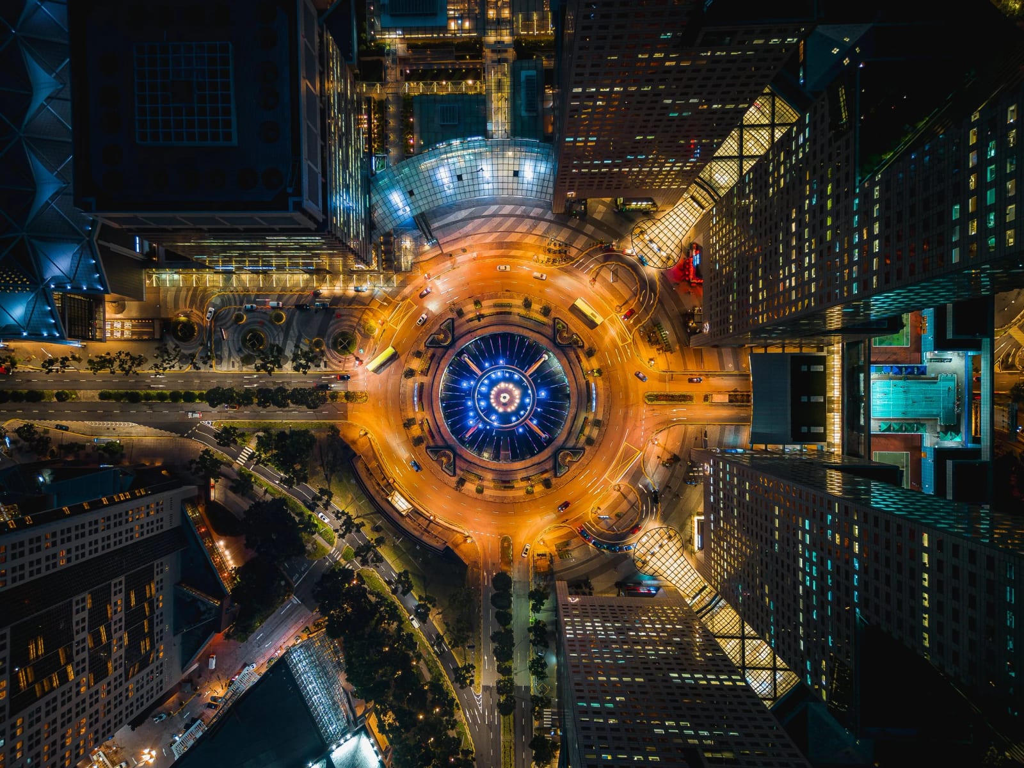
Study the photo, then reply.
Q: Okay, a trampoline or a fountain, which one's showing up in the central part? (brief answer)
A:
fountain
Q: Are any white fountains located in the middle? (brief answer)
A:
No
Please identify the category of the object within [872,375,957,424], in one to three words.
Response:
swimming pool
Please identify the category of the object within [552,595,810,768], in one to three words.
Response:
building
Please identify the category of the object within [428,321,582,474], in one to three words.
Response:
fountain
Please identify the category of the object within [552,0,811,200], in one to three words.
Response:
building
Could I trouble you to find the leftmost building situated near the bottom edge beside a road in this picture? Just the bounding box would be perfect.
[0,491,184,768]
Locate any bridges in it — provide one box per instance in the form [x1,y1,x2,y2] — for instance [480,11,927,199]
[484,38,512,75]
